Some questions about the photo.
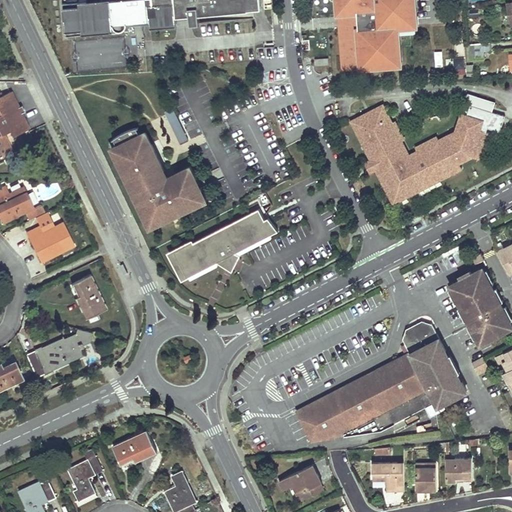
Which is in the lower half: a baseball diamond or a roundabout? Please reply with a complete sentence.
It is a roundabout that can be seen in the lower half.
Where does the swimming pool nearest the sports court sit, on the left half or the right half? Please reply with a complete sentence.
The swimming pool nearest the sports court sits on the left side.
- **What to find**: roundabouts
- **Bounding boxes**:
[125,294,242,425]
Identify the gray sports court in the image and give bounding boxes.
[74,36,128,73]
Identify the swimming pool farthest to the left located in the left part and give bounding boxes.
[33,182,62,202]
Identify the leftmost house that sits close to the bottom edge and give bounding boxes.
[18,482,56,512]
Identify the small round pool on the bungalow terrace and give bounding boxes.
[82,344,100,366]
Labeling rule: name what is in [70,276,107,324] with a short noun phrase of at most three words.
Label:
house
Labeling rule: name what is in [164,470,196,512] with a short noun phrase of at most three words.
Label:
house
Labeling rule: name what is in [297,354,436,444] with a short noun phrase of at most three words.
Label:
building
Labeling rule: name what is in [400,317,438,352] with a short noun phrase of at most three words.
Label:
building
